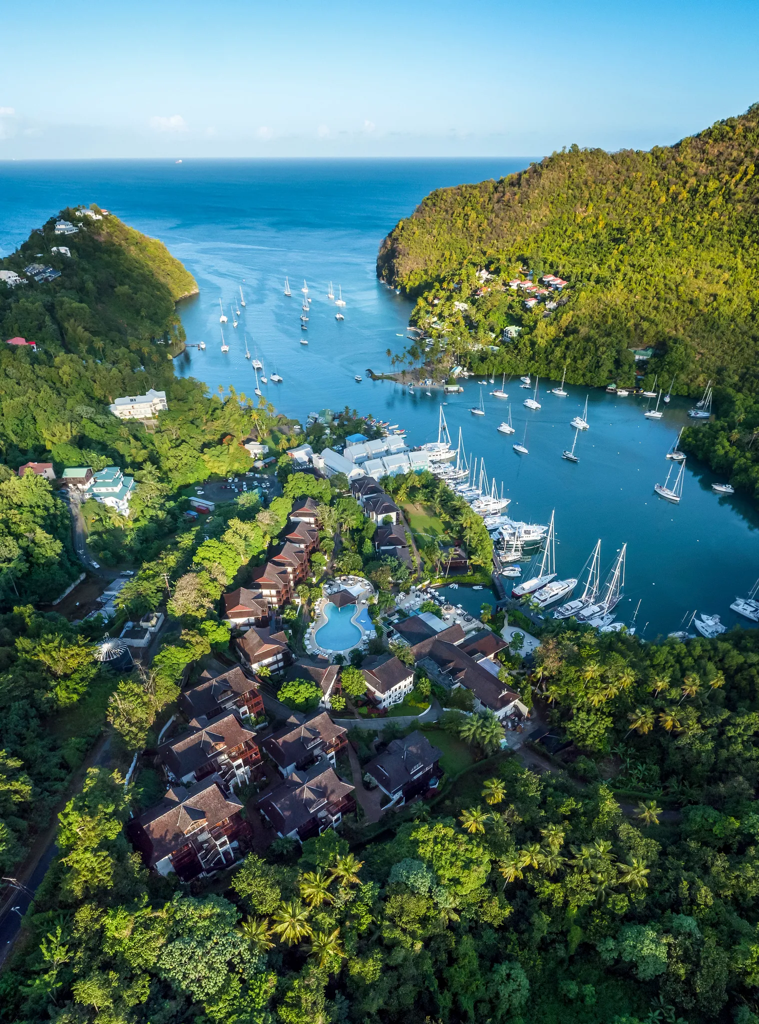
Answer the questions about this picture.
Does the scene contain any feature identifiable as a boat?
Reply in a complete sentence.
Yes, there is a boat in the image.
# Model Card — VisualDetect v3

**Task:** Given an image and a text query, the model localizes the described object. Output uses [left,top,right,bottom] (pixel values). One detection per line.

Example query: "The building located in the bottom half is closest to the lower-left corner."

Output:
[128,769,259,877]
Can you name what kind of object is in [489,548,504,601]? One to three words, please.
pier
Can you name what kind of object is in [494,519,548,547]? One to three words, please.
boat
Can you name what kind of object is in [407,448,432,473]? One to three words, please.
house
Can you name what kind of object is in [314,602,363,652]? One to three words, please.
swimming pool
